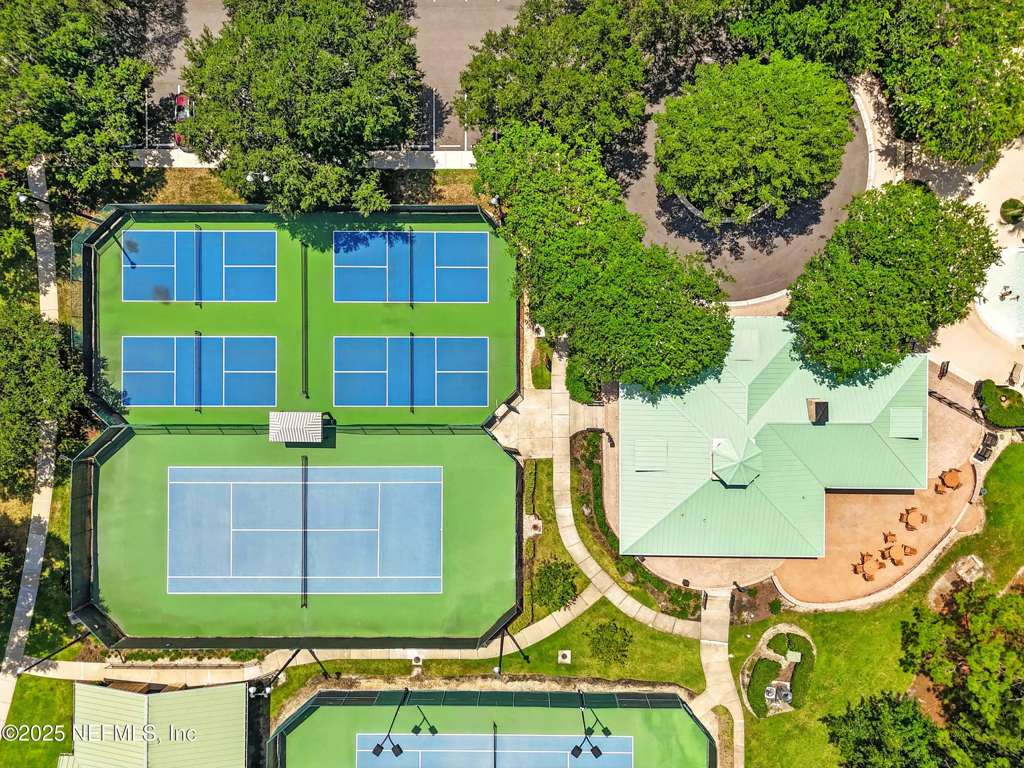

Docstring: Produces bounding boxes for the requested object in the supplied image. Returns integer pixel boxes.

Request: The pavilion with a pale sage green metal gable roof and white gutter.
[60,682,251,768]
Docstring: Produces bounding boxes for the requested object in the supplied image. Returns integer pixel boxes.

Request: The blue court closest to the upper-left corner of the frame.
[122,230,277,302]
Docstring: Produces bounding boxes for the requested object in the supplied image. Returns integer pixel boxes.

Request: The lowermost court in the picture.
[279,703,707,768]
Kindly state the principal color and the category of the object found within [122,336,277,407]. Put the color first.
blue sports court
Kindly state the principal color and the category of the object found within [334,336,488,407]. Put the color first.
blue sports court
